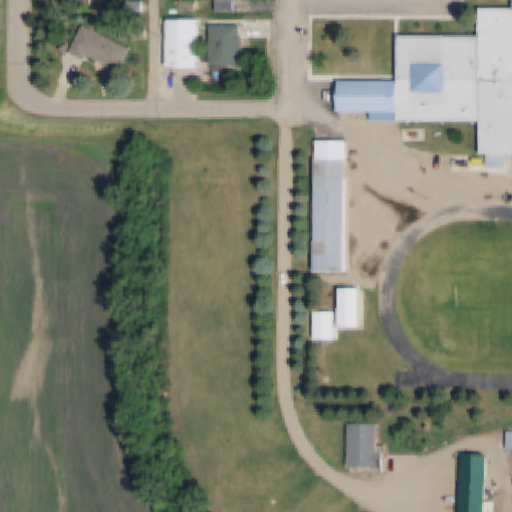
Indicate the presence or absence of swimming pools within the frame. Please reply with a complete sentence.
No, this view has no swimming pool in it.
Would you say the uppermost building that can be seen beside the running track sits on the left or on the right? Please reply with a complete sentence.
The uppermost building that can be seen beside the running track is on the right side of the image.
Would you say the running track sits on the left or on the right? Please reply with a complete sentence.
You can find the running track on the right side of the picture.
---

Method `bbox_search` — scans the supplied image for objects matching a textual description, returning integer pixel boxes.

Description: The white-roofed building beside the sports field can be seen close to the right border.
[334,8,512,168]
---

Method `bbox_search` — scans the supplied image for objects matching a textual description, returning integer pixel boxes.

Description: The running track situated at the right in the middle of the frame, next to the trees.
[380,206,512,387]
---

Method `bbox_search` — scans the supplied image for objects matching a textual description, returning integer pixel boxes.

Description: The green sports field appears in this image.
[396,222,512,372]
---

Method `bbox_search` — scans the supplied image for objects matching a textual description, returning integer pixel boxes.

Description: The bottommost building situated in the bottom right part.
[457,452,485,512]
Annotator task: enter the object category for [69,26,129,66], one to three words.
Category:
house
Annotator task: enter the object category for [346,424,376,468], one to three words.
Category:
shed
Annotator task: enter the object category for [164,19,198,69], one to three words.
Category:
building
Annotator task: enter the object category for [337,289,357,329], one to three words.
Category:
shed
